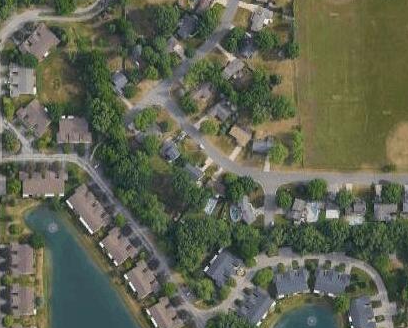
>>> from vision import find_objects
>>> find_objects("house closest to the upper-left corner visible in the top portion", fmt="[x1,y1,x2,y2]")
[20,22,60,62]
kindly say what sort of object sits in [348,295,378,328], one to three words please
house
